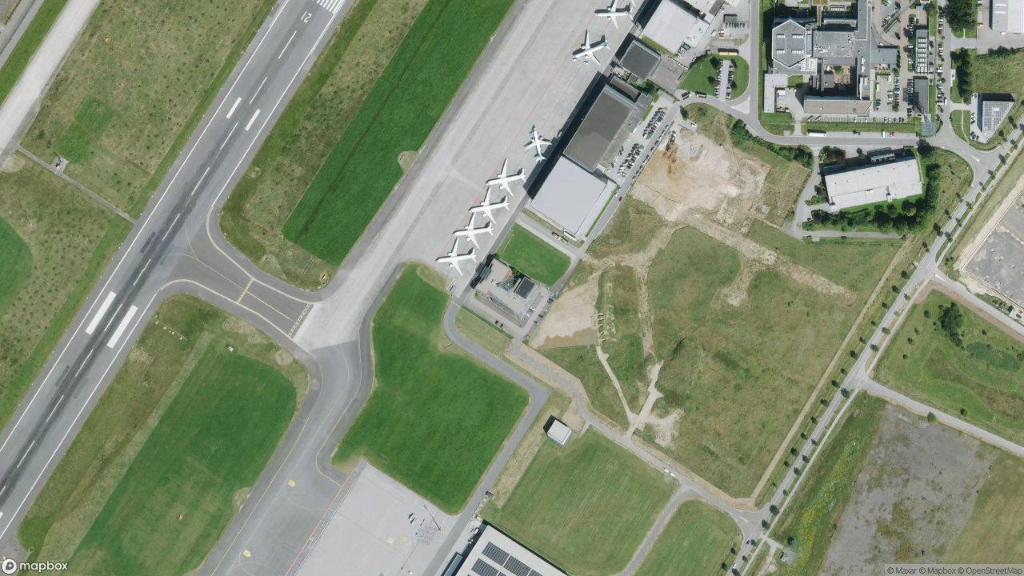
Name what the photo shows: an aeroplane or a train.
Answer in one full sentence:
This aerial view contains an aeroplane.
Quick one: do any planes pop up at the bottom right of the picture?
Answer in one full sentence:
No, no plane appears at the bottom right of the picture.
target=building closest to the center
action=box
[470,258,544,319]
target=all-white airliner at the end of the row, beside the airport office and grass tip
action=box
[436,239,477,277]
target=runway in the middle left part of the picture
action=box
[0,0,356,557]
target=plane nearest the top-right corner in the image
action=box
[595,0,635,33]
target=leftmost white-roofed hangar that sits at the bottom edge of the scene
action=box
[455,524,572,576]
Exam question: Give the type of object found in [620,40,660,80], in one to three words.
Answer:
hangar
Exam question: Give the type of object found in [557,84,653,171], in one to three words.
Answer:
hangar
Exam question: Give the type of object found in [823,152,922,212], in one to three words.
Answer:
building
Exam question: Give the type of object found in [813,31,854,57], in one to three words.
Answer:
building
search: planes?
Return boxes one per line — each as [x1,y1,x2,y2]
[595,0,635,33]
[525,128,552,160]
[469,188,509,225]
[436,239,477,277]
[573,31,609,66]
[453,212,493,249]
[487,160,527,197]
